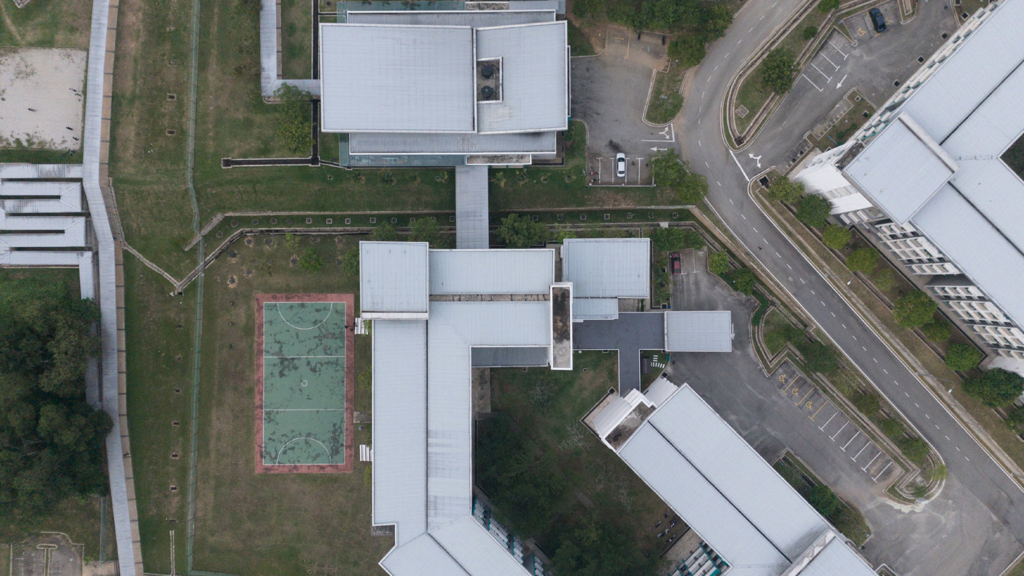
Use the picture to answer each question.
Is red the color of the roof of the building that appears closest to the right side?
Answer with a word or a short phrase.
No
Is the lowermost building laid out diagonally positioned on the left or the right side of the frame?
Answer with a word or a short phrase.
right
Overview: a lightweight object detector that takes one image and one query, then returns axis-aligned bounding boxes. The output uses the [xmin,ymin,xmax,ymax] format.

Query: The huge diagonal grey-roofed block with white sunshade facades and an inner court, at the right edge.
[799,0,1024,378]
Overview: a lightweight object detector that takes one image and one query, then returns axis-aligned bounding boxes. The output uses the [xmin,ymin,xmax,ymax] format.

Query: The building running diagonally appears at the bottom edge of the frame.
[591,376,885,576]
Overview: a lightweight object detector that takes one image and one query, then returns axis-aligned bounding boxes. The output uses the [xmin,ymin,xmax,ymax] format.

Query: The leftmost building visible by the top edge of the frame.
[319,0,571,169]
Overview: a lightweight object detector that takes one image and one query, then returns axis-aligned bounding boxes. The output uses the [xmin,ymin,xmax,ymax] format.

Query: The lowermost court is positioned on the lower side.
[255,294,354,473]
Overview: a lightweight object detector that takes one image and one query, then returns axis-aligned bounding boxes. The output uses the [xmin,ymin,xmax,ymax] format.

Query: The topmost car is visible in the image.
[869,7,885,33]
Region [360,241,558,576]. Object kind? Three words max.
building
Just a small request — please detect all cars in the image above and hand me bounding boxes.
[615,153,626,178]
[869,7,885,33]
[671,253,682,275]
